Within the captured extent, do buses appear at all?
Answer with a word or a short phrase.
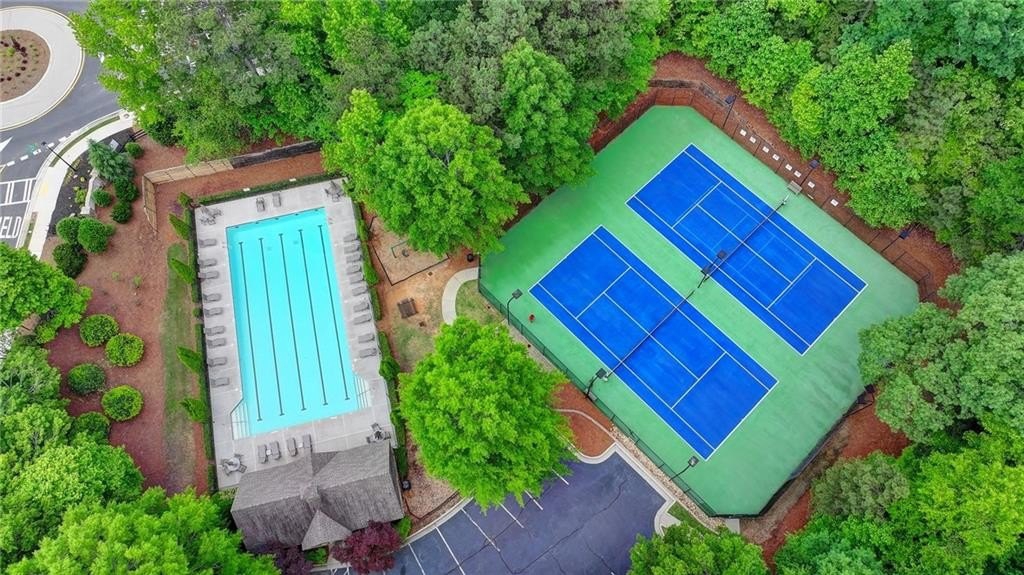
No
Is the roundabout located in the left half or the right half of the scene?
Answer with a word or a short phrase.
left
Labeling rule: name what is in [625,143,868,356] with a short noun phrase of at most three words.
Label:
tennis court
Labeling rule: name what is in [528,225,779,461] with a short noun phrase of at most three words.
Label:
tennis court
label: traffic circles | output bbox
[0,6,84,130]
